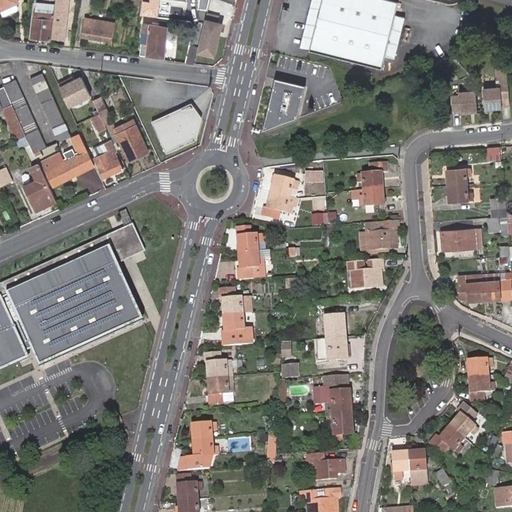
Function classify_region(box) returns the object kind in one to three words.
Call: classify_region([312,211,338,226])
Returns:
shed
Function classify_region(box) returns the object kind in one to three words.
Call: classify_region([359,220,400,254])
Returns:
house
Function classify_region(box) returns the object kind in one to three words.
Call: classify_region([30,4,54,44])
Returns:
house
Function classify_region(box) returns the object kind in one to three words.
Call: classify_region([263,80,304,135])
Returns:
building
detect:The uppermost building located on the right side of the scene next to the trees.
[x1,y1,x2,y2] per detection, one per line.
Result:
[300,0,404,71]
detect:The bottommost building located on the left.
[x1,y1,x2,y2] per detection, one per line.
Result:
[174,470,204,512]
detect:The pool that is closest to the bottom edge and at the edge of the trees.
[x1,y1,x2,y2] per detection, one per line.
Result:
[228,436,252,453]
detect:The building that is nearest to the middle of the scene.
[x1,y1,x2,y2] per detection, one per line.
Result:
[236,224,266,282]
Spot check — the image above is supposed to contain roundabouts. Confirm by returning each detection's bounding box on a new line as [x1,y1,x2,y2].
[180,151,250,218]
